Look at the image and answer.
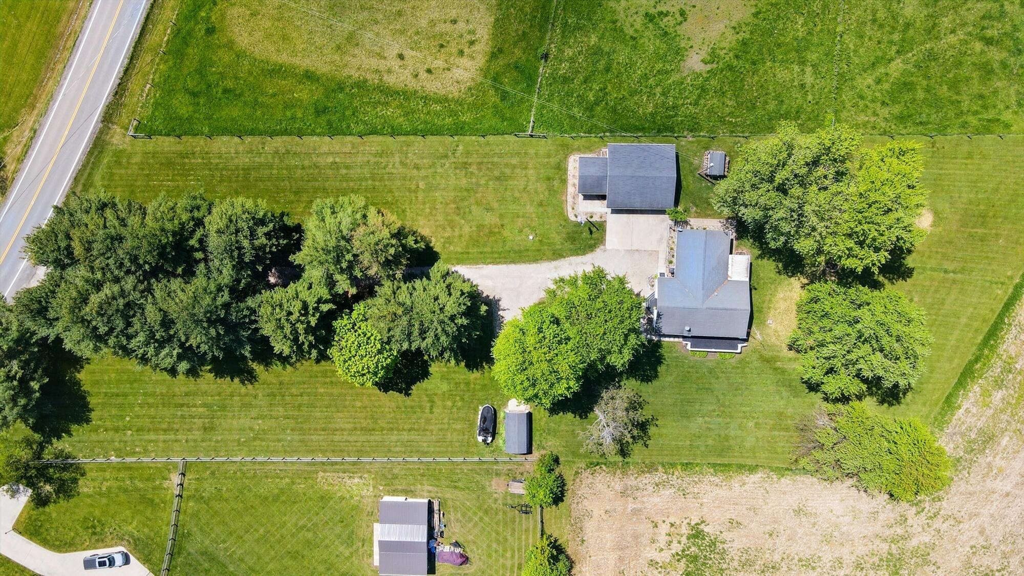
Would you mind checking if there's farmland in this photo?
Yes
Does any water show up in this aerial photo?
No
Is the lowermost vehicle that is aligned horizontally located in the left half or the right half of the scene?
left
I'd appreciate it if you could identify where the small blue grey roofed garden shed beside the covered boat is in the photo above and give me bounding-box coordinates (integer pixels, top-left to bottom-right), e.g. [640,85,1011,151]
[504,410,530,454]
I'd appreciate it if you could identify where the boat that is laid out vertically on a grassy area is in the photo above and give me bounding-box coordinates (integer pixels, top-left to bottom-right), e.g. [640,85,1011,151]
[477,404,494,450]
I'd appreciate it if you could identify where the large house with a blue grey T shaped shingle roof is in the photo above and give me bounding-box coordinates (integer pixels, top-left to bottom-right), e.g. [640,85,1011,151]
[646,229,751,354]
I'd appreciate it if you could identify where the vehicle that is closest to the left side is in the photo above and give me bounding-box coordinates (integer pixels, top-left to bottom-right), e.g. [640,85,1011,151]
[83,549,127,569]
